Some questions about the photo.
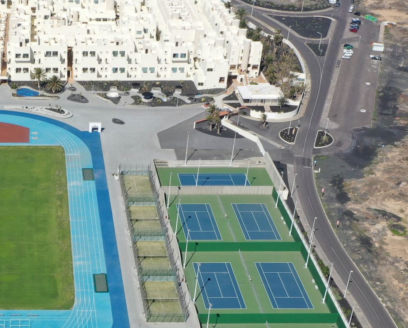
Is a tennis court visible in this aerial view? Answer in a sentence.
Yes, a tennis court appears in the view.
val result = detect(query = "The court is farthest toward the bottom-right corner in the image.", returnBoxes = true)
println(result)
[255,261,315,309]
